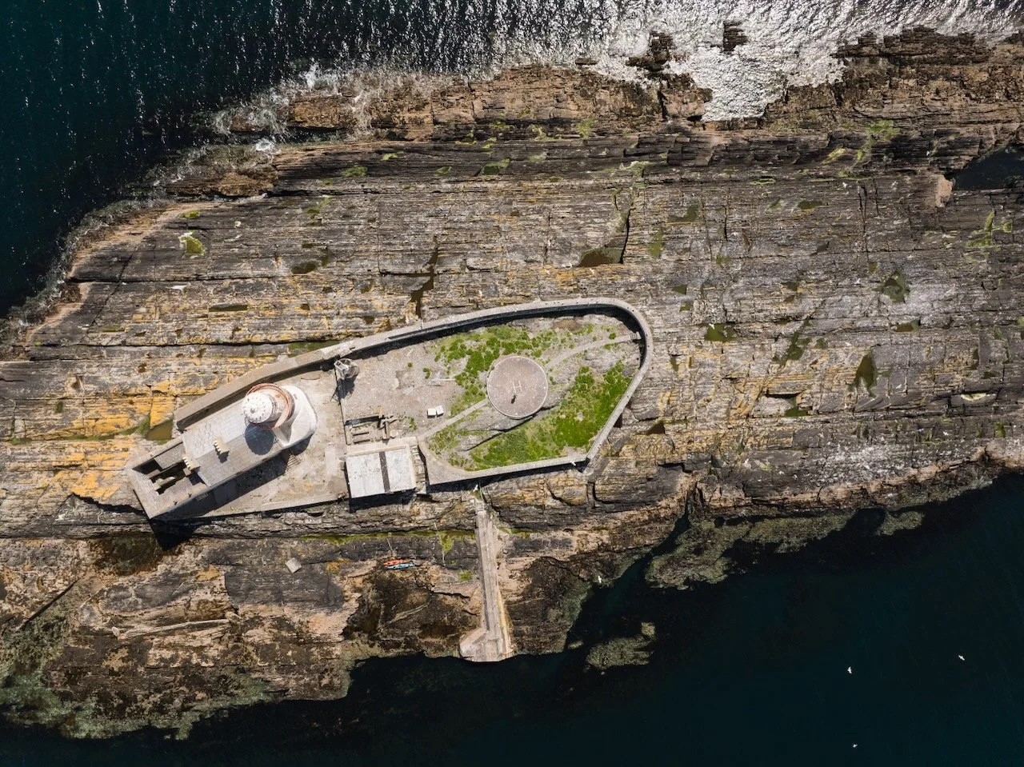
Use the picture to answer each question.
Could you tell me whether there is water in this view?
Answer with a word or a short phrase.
Yes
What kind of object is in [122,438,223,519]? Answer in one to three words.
shed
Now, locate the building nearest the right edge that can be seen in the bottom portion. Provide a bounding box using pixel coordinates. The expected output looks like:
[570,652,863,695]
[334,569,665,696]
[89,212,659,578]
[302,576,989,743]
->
[336,436,419,497]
